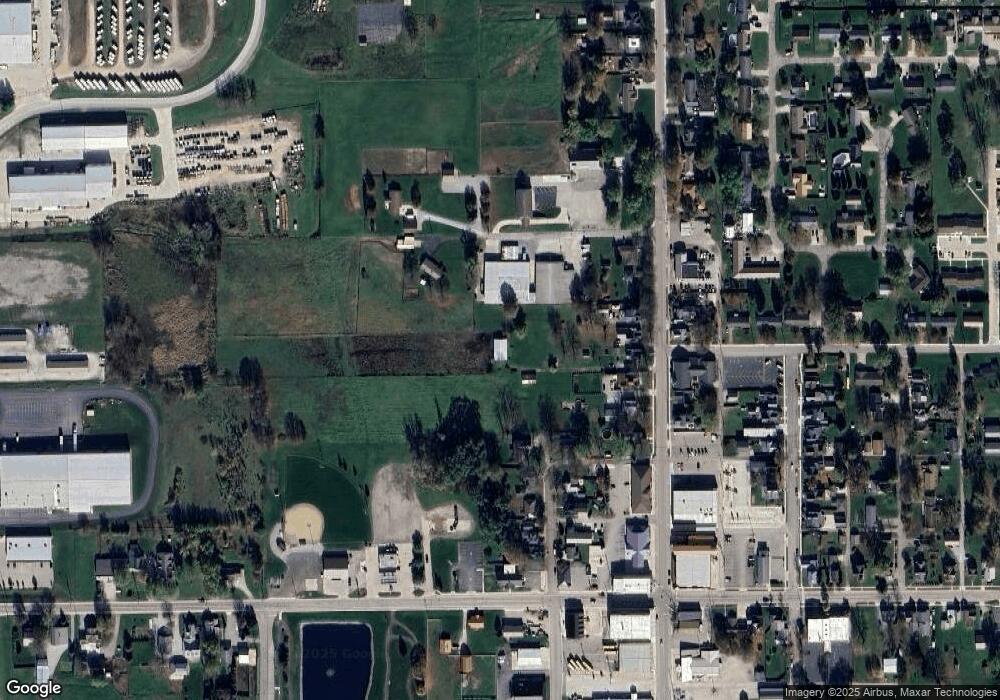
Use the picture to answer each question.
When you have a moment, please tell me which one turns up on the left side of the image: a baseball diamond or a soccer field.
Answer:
baseball diamond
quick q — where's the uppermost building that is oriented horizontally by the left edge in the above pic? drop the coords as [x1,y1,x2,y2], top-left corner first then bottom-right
[41,126,127,149]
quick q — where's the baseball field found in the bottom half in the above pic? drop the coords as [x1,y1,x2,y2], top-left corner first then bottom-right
[277,456,372,547]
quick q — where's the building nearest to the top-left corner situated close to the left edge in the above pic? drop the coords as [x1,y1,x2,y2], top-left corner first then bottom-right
[0,3,30,62]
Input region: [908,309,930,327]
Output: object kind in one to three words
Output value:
house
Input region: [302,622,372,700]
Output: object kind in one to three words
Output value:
pond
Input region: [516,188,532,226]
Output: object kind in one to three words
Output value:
building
